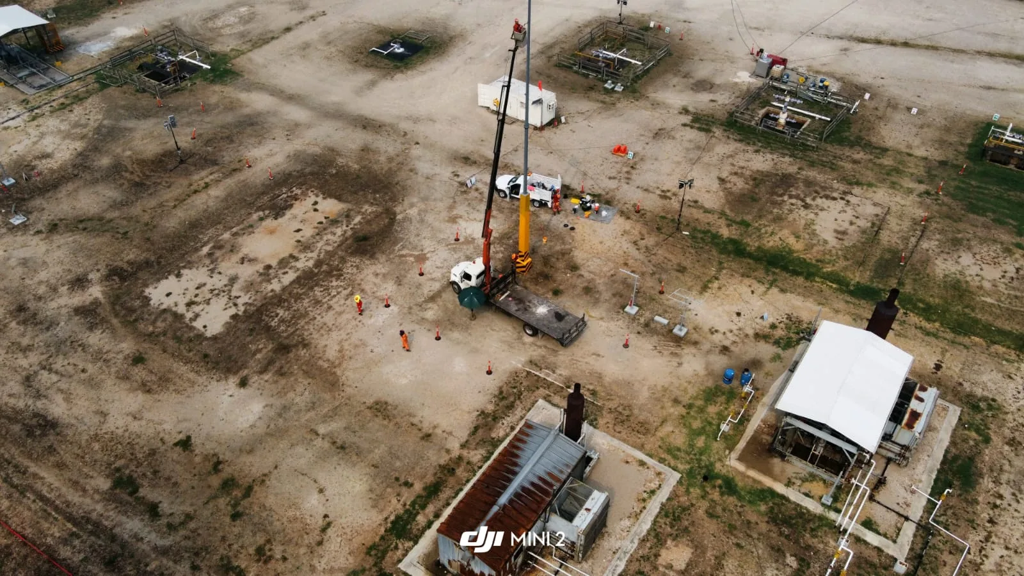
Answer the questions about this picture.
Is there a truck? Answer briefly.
Yes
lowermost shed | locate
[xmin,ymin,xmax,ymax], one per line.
[437,418,592,576]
